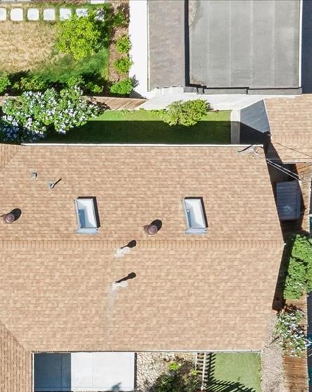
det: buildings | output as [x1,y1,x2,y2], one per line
[133,0,303,107]
[0,143,282,392]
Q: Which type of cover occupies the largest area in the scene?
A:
buildings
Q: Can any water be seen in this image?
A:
No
